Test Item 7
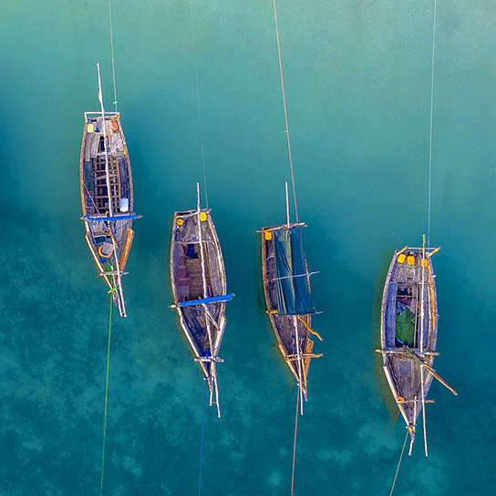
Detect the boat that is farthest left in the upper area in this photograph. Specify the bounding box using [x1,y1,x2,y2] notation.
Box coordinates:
[79,63,142,316]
